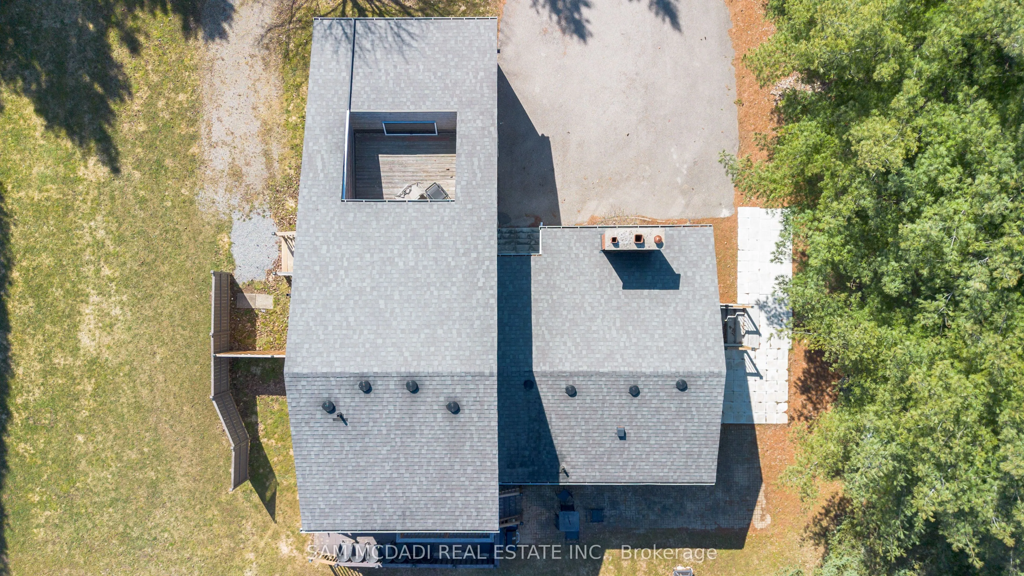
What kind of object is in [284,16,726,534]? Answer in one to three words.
house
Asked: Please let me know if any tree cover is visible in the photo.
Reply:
Yes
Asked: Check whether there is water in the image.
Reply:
No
